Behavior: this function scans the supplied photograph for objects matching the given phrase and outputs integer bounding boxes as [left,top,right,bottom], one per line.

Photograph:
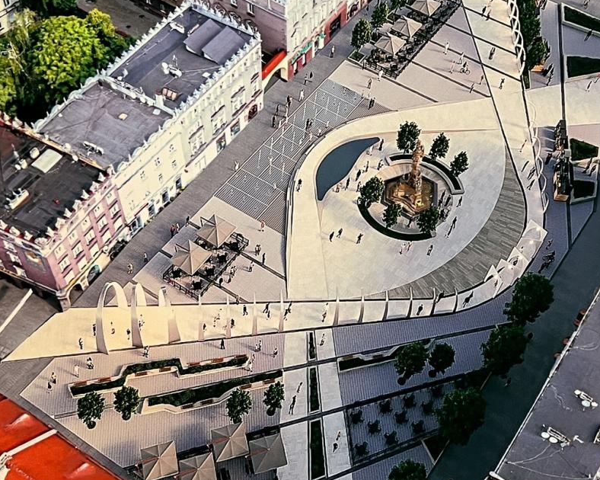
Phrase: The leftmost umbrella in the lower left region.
[137,440,180,480]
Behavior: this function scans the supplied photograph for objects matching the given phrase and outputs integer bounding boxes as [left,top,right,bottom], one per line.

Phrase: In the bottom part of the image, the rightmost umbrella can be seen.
[248,432,289,473]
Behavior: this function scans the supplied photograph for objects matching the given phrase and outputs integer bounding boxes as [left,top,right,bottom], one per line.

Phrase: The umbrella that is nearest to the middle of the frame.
[195,216,237,249]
